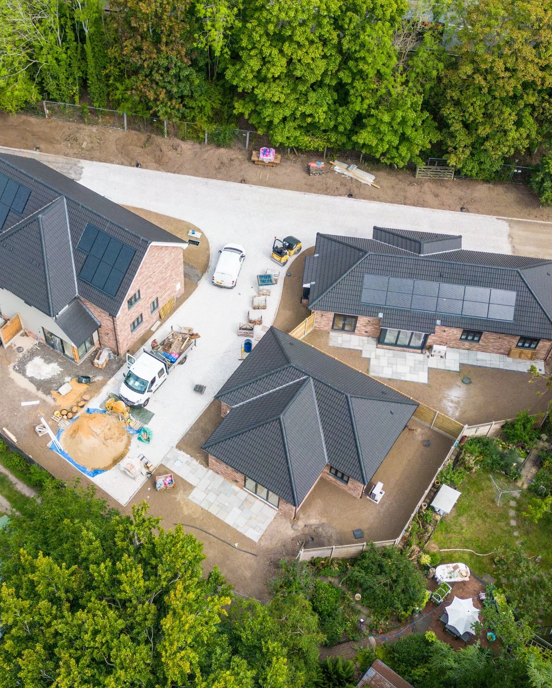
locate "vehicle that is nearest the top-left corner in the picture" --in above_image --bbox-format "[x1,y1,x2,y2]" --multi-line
[211,245,244,291]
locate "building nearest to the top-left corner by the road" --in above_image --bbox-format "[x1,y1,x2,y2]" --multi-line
[0,154,191,365]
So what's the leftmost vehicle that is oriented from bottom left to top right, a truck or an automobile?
truck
